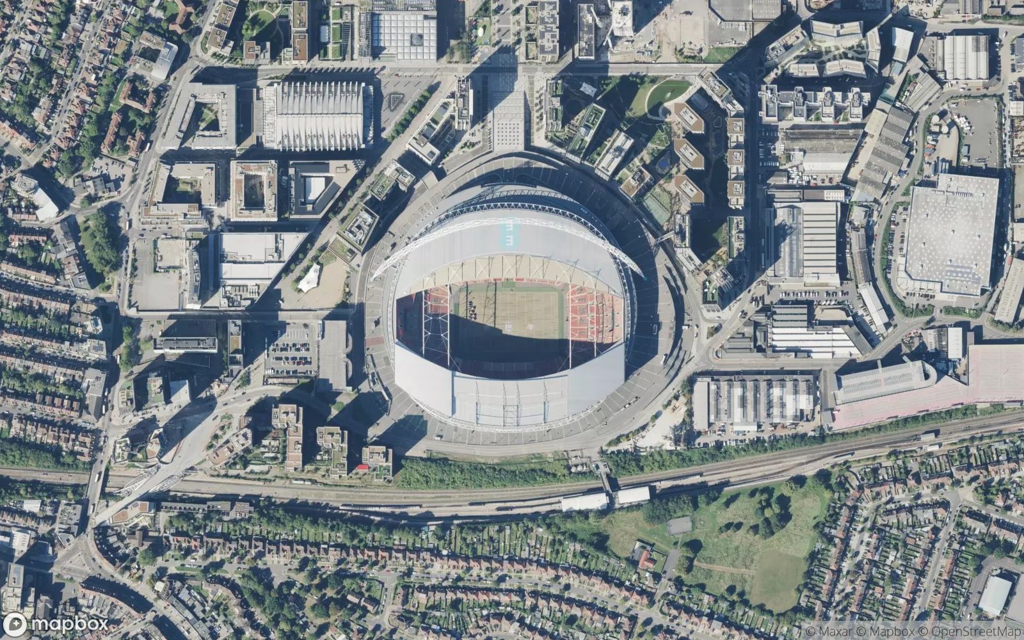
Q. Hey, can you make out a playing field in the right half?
Yes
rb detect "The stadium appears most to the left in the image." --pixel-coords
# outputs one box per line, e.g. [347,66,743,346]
[264,80,374,152]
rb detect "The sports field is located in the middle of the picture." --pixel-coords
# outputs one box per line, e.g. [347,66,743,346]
[454,282,563,365]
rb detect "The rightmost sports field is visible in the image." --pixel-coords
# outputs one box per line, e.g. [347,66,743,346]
[750,549,807,612]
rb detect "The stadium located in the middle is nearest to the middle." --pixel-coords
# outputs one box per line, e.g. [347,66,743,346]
[370,184,647,433]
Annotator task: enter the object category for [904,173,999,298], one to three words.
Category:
building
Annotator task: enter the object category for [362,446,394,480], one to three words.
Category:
building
